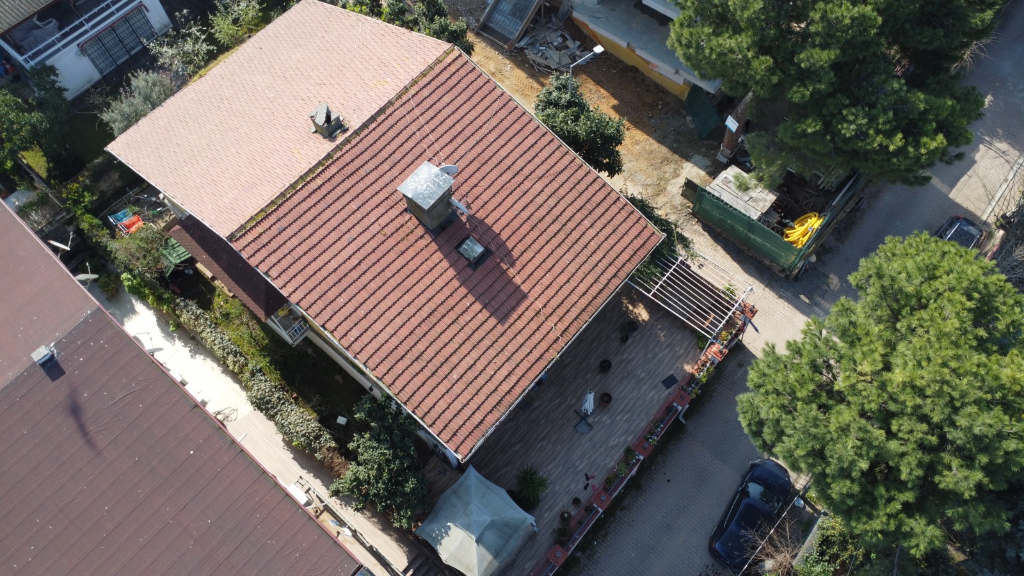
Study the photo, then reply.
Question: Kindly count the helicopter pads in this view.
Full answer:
There are no helicopter pads in this view.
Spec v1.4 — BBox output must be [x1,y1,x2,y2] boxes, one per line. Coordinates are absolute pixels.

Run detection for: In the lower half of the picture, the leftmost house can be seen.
[0,201,369,576]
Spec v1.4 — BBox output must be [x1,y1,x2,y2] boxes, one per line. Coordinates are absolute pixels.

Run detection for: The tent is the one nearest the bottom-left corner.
[412,465,536,576]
